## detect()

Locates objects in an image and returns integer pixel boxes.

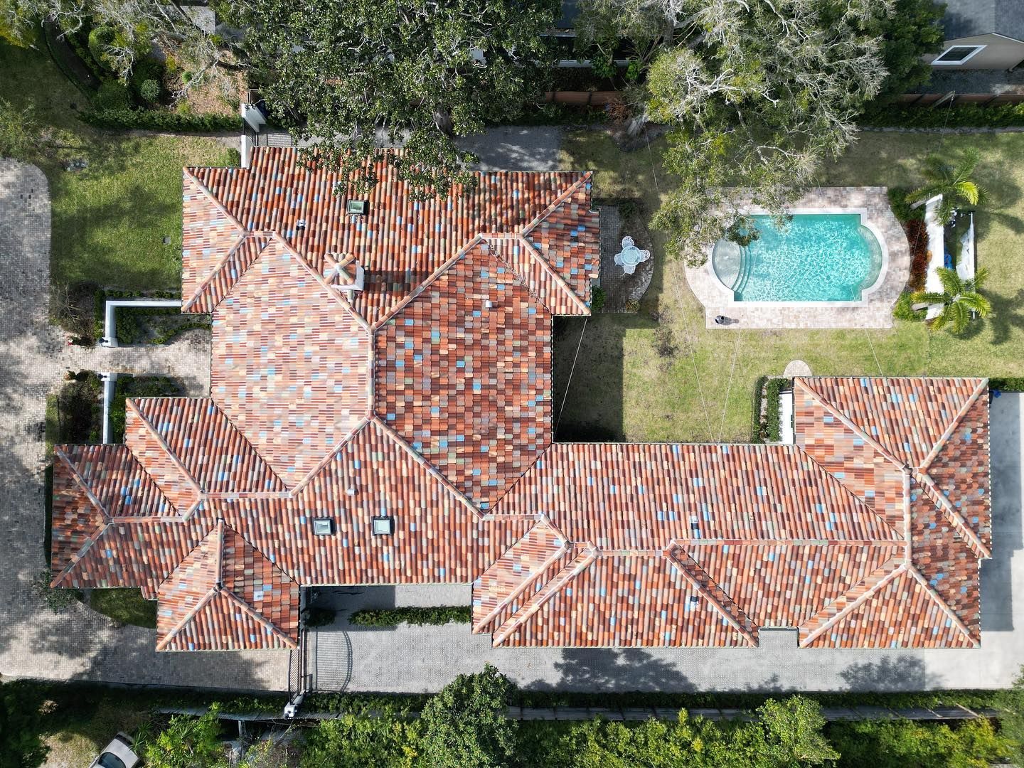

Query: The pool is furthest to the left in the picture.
[706,207,889,308]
